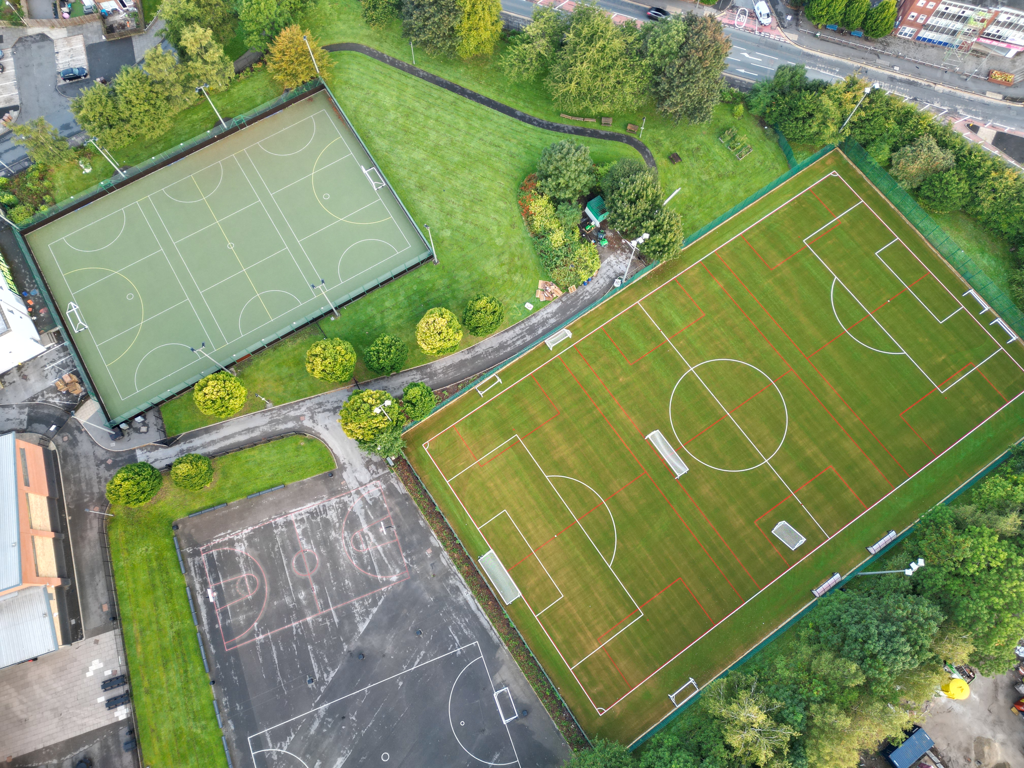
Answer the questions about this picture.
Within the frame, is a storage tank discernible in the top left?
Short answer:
No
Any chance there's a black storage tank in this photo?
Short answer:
No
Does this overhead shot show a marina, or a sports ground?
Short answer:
sports ground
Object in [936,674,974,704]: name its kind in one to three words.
storage tank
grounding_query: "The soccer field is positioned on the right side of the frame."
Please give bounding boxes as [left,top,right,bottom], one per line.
[403,147,1024,744]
